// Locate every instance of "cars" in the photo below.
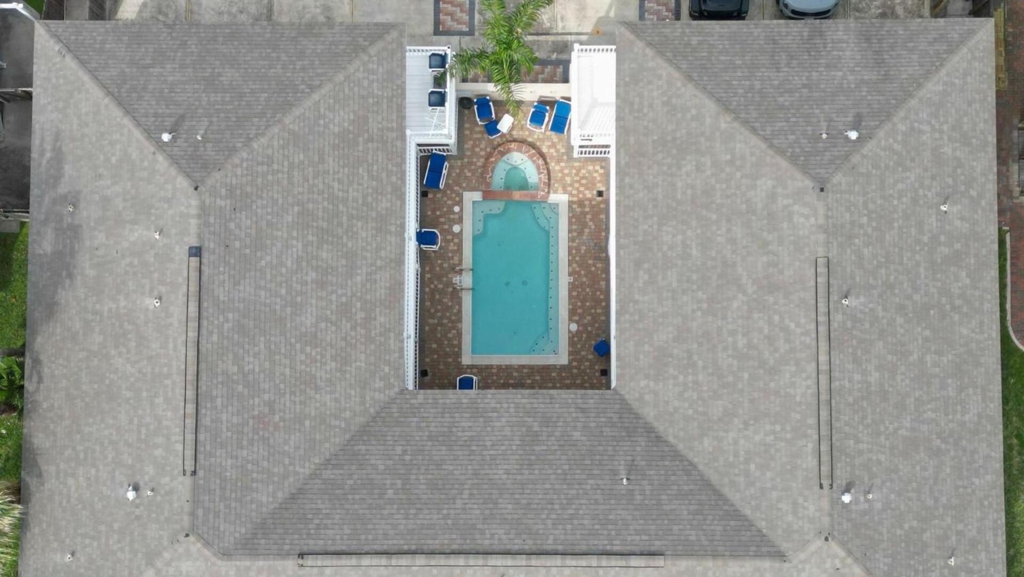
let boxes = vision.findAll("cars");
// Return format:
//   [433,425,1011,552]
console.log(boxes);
[685,0,748,21]
[773,0,835,20]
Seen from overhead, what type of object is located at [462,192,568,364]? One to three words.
swimming pool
